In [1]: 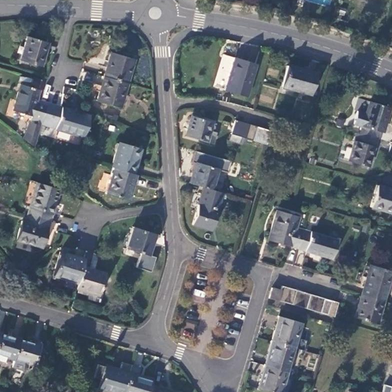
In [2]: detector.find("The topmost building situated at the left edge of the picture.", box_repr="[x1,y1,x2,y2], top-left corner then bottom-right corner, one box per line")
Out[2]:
[16,38,52,70]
